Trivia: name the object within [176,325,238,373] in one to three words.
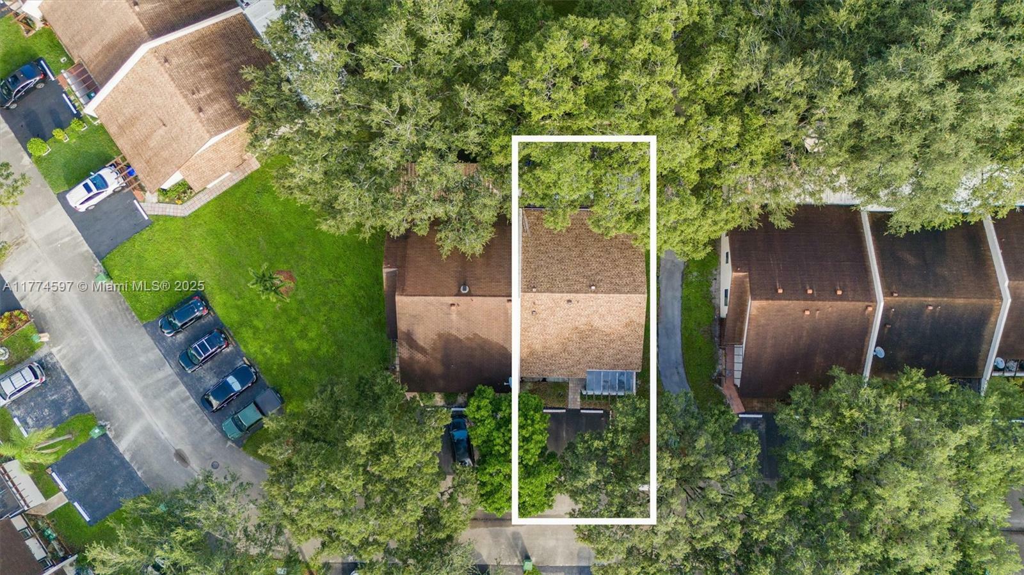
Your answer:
car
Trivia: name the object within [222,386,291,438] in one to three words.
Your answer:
truck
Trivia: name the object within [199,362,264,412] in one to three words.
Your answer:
car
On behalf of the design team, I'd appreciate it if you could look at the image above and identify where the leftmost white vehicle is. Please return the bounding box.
[0,357,57,407]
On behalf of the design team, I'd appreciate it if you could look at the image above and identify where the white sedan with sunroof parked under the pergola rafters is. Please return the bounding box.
[68,163,131,212]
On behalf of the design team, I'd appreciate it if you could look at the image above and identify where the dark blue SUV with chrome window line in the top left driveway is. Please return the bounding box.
[0,60,56,110]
